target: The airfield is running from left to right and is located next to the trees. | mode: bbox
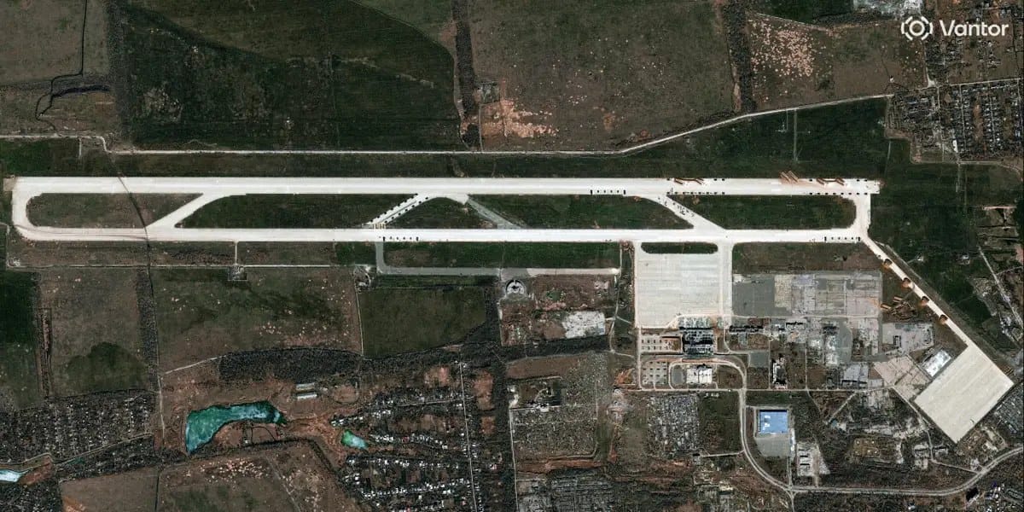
[3,176,1014,443]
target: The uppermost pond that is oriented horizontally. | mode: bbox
[186,400,286,455]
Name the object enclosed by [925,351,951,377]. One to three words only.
building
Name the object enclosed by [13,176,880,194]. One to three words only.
runway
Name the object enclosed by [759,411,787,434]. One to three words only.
building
